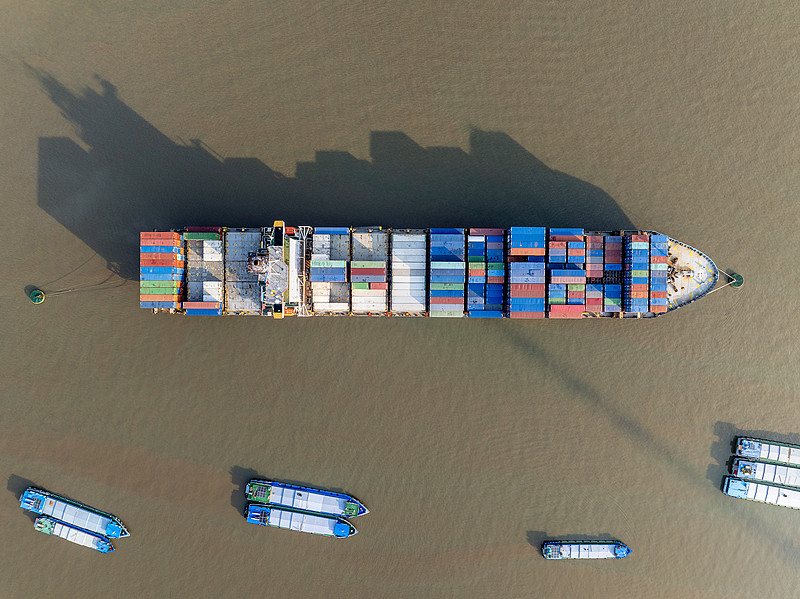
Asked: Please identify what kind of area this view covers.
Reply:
port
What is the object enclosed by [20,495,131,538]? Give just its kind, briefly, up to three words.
ship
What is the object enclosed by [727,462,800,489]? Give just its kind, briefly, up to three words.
ship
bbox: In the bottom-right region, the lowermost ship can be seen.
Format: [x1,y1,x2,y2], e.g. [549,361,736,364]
[540,538,631,559]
